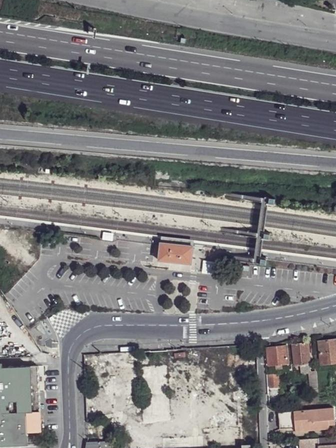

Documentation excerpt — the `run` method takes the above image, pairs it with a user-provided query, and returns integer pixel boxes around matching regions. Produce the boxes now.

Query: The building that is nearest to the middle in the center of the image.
[157,243,192,266]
